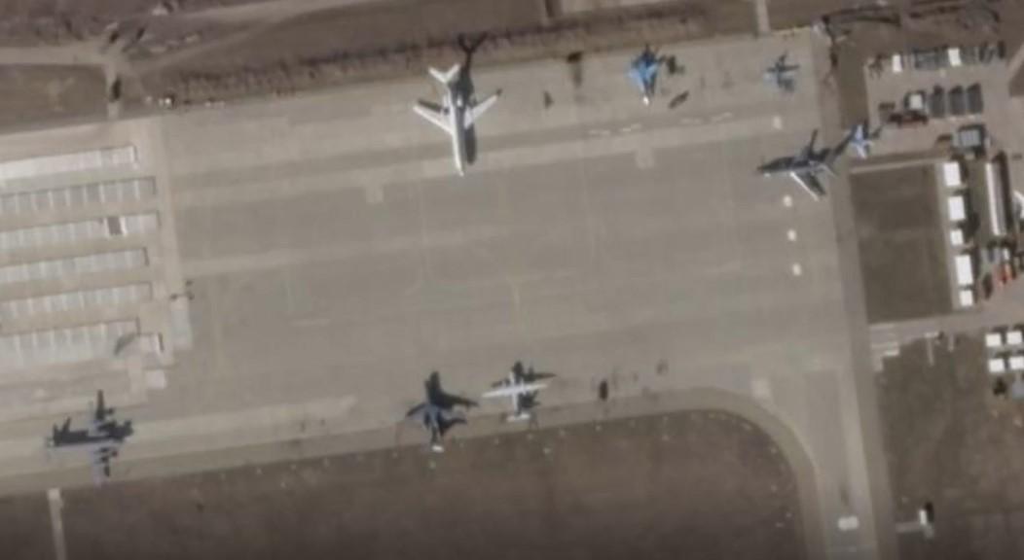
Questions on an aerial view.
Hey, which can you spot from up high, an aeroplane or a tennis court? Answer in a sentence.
It is an aeroplane that can be seen here.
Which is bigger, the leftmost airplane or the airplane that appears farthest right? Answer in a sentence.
The leftmost airplane is larger than the airplane that appears farthest right.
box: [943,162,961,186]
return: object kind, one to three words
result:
shed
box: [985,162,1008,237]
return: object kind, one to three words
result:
building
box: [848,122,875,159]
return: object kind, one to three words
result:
airplane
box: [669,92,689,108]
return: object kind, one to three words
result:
vehicle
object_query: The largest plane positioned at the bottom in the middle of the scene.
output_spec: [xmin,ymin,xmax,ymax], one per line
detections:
[399,379,472,455]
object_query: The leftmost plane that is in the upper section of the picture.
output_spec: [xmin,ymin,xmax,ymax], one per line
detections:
[418,64,497,176]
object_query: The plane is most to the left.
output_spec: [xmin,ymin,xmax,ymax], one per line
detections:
[50,403,127,492]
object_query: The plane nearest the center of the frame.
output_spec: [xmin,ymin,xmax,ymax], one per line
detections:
[484,371,545,422]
